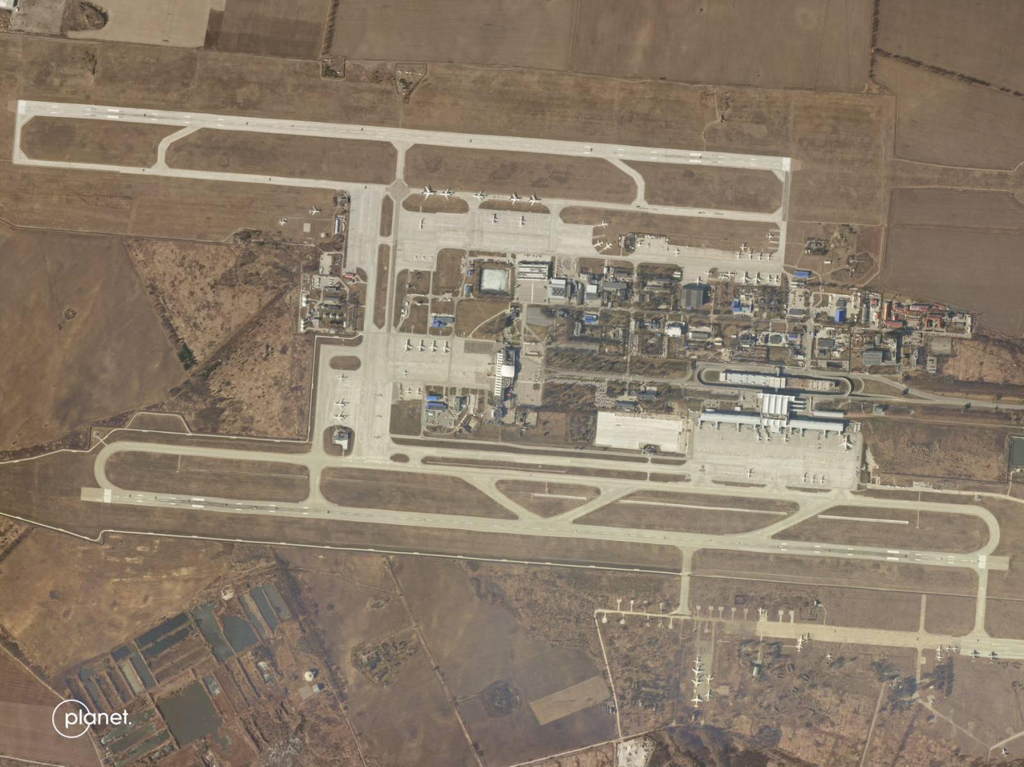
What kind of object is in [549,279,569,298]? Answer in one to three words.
building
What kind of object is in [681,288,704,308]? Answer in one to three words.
hangar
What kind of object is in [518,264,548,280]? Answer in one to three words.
building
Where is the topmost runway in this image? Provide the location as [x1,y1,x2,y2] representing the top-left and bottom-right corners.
[8,100,800,171]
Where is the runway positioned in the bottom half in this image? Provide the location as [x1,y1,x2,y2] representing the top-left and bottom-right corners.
[81,487,1009,571]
